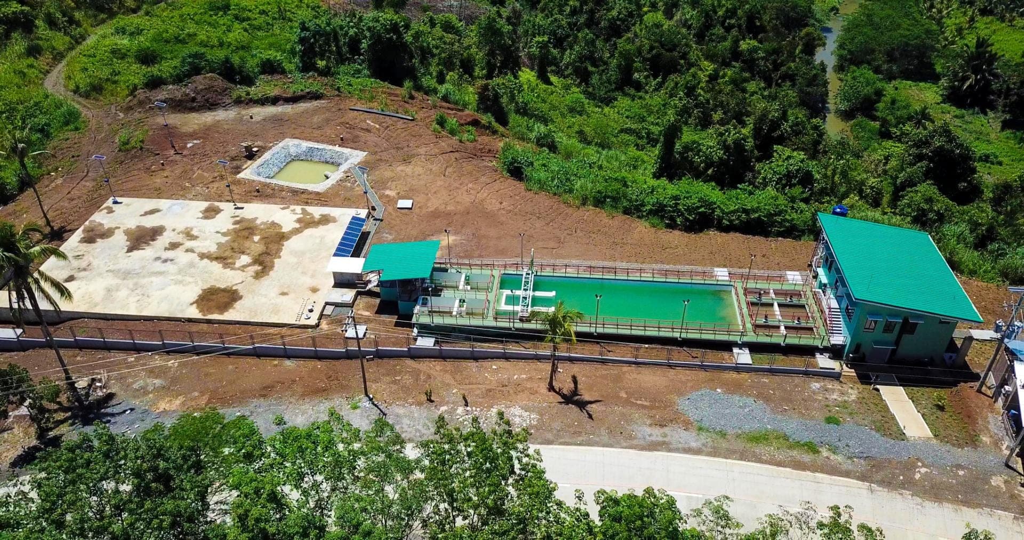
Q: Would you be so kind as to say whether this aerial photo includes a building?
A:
Yes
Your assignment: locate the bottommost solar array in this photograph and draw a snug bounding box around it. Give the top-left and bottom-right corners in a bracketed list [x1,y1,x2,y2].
[331,214,368,256]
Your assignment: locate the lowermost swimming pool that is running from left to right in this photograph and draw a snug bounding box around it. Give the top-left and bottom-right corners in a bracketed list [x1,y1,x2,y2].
[496,276,740,329]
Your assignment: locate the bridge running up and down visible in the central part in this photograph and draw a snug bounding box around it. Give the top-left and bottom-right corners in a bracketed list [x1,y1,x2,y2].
[515,262,537,326]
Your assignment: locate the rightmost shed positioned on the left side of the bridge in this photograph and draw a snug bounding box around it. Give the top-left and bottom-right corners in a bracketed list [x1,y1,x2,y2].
[362,237,441,314]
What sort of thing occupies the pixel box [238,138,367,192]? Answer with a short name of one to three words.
pond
